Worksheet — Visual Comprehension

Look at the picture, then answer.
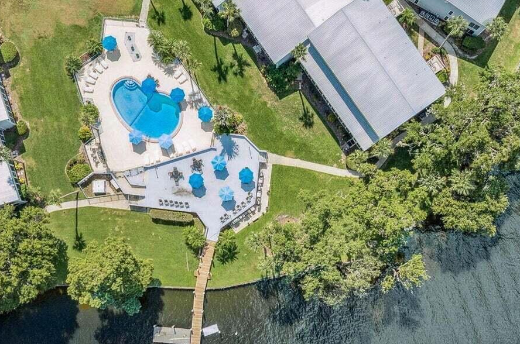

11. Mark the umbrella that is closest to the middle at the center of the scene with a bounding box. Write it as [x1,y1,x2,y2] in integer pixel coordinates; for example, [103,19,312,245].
[239,169,253,183]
